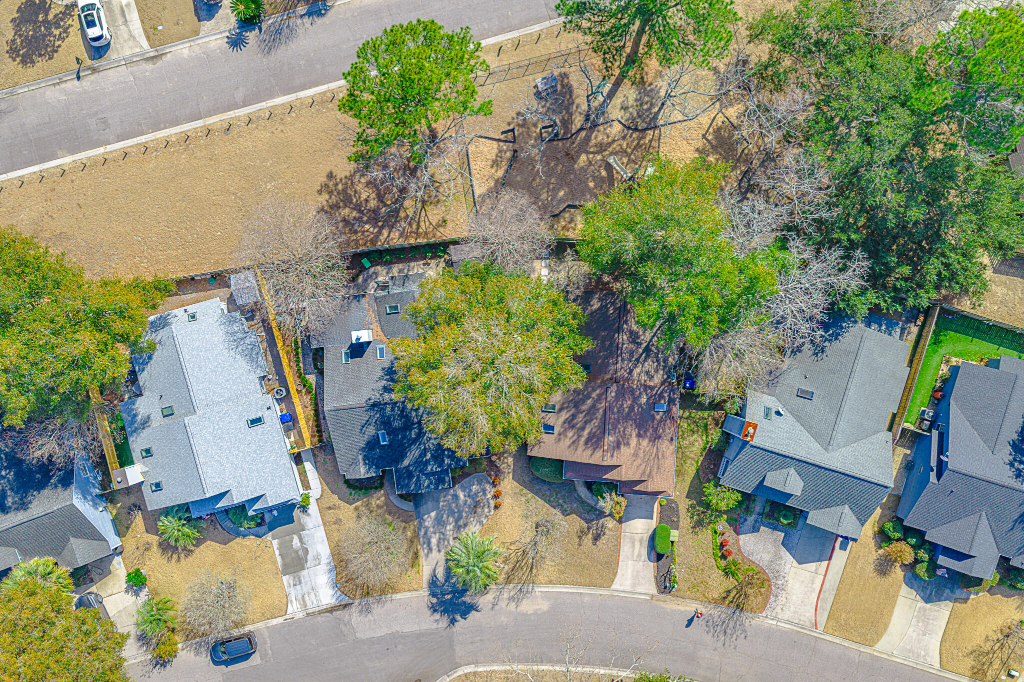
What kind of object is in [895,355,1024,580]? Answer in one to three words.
house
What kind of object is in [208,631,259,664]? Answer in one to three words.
car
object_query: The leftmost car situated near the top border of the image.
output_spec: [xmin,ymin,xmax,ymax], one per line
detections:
[78,0,113,44]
